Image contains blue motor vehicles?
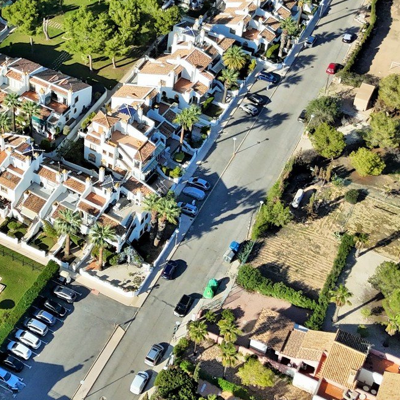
Yes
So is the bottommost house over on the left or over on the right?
right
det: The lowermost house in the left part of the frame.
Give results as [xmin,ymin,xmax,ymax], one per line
[0,130,142,276]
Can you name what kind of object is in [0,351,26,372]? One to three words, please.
car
